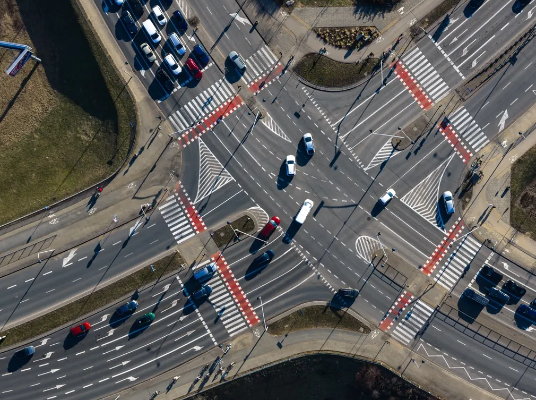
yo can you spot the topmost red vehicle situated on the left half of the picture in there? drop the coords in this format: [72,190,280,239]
[186,57,203,81]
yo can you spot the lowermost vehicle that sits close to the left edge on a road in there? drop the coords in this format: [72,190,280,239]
[12,345,35,360]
